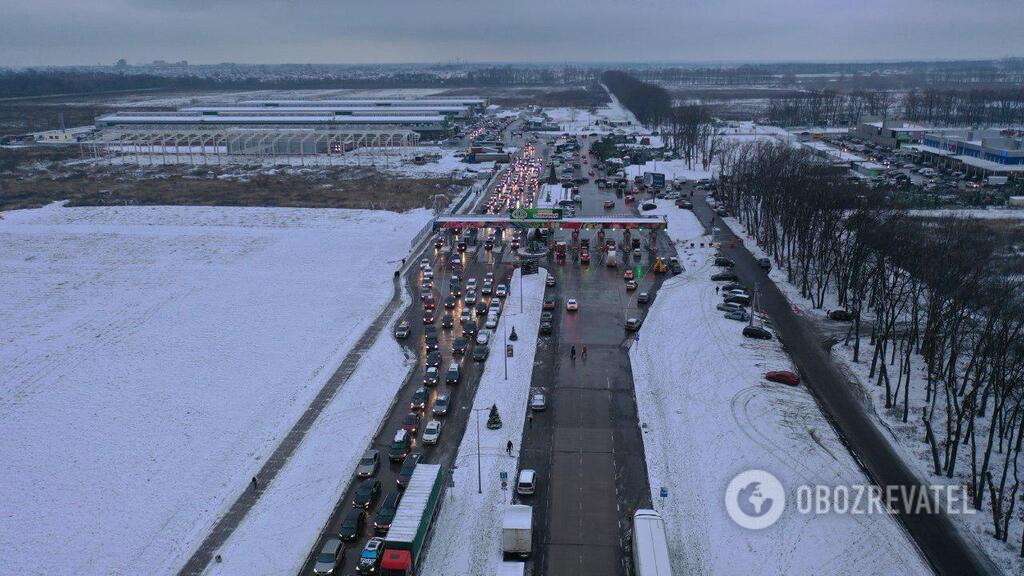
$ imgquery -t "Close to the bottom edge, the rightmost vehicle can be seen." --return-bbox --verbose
[627,508,671,576]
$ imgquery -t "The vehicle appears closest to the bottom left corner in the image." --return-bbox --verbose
[315,536,347,573]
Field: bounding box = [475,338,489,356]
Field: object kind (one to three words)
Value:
car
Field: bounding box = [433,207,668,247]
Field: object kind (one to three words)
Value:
toll station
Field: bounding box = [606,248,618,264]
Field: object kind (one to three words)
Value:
vehicle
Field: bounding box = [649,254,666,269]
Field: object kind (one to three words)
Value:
work vehicle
